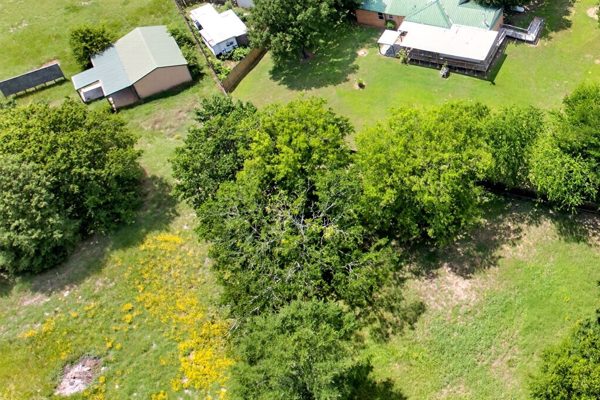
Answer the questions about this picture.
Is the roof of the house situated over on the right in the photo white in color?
Yes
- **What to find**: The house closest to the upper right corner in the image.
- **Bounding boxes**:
[359,0,548,76]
